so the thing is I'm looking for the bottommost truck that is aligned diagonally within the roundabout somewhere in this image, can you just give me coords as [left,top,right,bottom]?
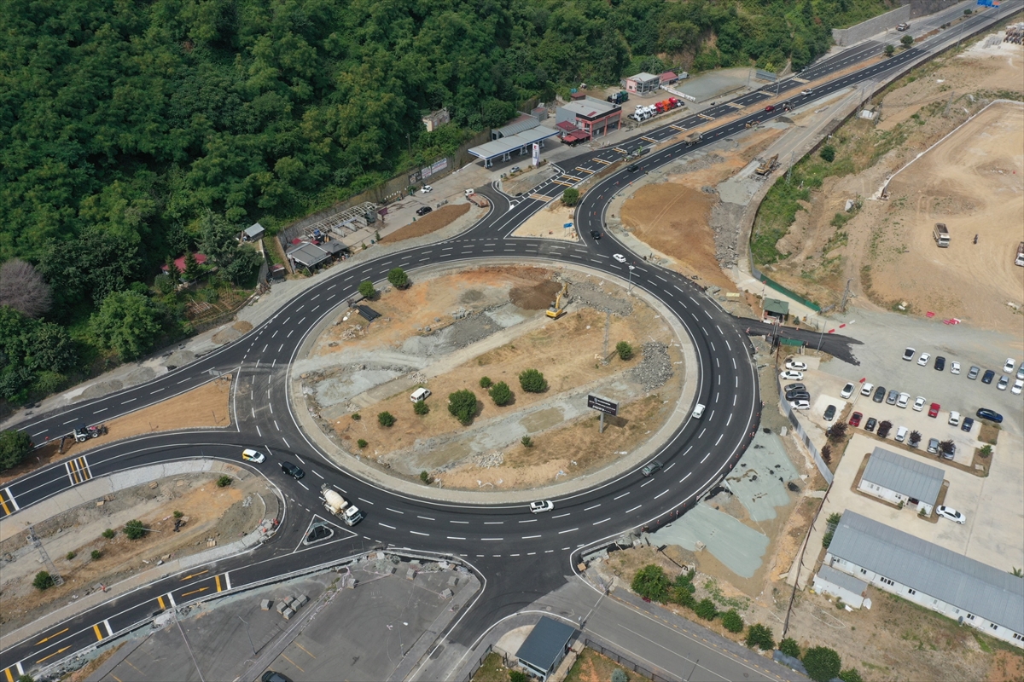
[320,480,362,522]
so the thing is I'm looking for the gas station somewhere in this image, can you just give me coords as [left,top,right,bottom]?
[470,123,559,170]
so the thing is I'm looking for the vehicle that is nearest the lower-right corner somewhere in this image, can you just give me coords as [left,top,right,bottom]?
[936,505,967,525]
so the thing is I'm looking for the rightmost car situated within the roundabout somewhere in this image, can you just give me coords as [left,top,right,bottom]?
[692,404,705,419]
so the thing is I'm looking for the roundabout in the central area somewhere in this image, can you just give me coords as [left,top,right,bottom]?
[231,237,757,560]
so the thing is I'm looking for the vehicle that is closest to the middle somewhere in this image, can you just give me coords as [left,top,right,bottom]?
[545,280,566,317]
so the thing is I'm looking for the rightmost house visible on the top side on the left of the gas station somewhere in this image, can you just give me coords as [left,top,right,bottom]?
[423,109,450,139]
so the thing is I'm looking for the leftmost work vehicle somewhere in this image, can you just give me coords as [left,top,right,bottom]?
[62,420,108,447]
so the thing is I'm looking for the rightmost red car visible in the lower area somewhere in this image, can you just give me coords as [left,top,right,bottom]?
[927,402,942,418]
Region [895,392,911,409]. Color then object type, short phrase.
white car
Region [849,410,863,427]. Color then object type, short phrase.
red car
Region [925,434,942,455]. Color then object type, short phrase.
gray car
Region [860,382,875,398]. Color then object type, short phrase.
white car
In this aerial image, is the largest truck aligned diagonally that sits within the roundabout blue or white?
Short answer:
white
